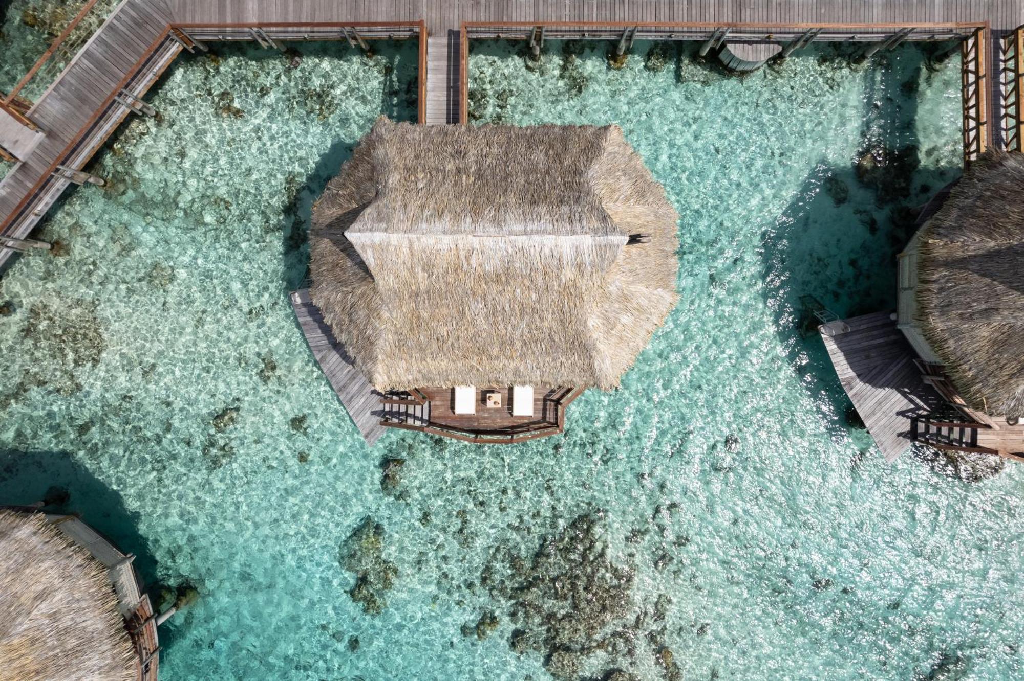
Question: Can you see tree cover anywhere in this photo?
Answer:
No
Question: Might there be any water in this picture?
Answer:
Yes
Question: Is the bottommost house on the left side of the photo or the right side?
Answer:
left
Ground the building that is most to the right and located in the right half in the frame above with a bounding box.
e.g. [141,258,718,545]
[812,149,1024,470]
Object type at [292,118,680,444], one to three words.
house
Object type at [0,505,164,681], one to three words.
house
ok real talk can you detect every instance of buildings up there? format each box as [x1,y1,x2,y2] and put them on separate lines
[0,505,164,681]
[292,118,680,444]
[812,149,1024,470]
